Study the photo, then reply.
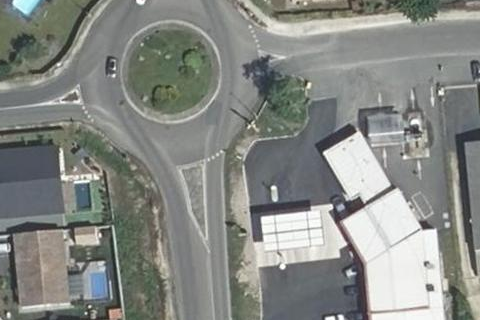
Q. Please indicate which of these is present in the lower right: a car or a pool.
car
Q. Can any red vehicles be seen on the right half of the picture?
No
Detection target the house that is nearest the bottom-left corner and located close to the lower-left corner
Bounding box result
[12,229,73,312]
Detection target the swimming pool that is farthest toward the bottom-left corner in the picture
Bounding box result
[82,260,110,300]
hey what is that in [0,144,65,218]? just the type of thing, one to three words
house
